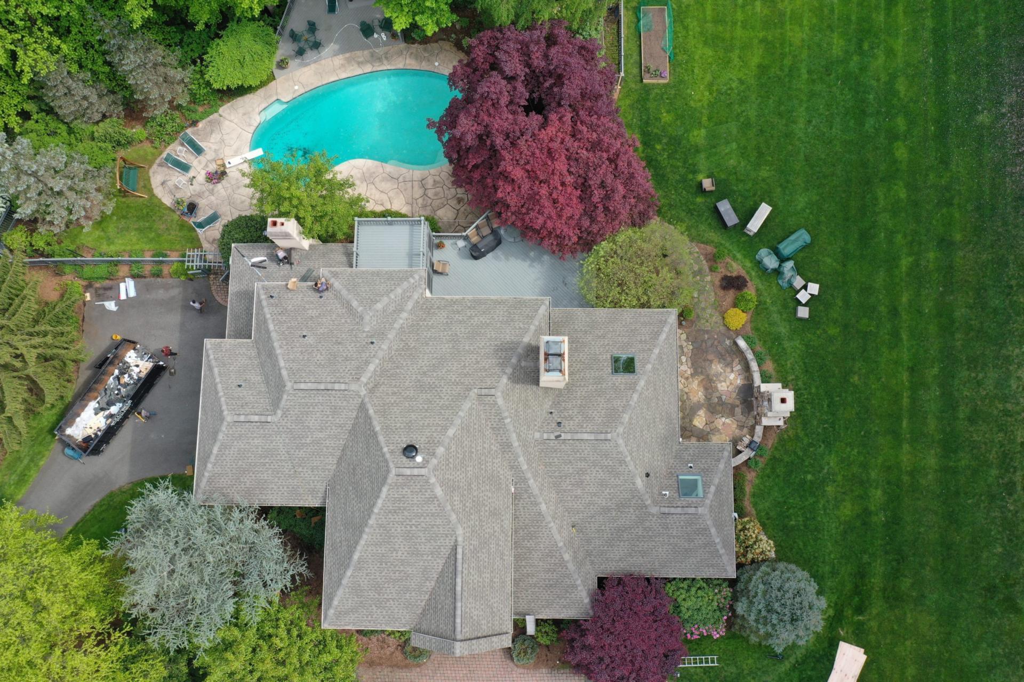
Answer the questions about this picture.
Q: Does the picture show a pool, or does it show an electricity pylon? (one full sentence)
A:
Of the two, only a pool appears.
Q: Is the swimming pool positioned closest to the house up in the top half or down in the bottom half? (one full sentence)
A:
The swimming pool positioned closest to the house is in the top half of the image.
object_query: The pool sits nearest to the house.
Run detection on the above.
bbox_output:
[251,70,454,176]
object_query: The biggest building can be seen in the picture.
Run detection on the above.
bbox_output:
[191,216,740,657]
